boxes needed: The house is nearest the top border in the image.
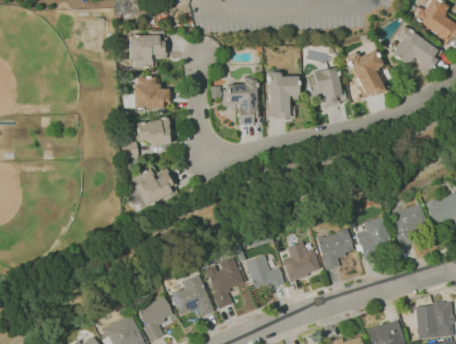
[416,0,456,46]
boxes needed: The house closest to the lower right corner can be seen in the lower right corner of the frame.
[417,303,456,340]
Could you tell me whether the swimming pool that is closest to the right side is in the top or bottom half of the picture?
top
